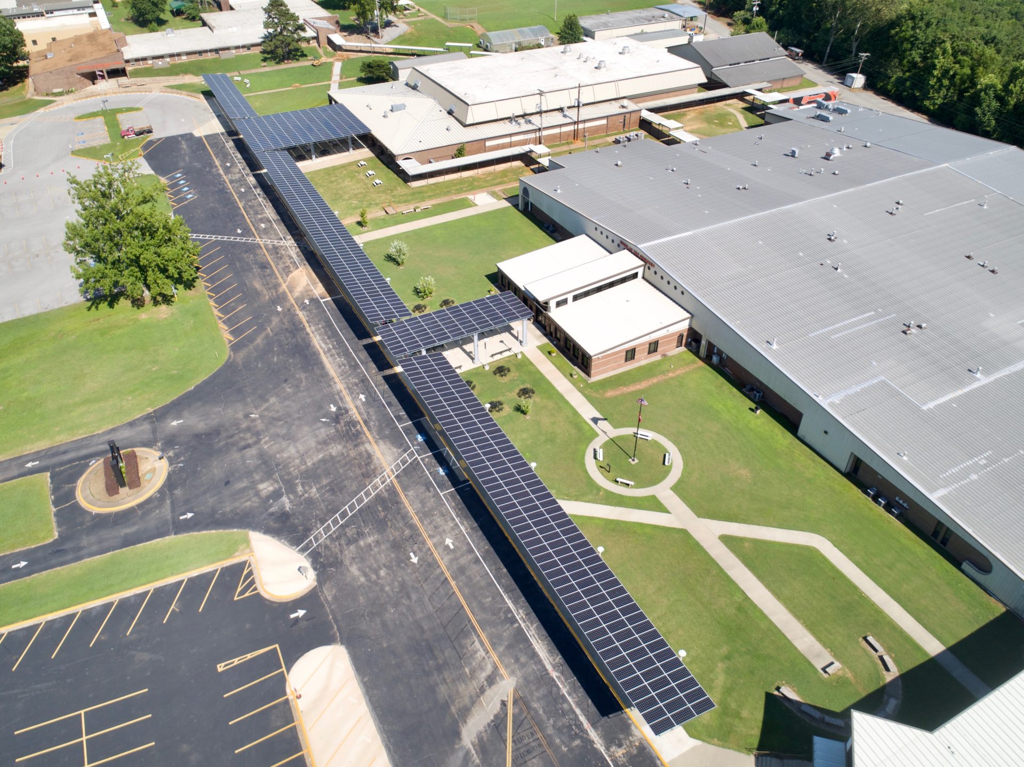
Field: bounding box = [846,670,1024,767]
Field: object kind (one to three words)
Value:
building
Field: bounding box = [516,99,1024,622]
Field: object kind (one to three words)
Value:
building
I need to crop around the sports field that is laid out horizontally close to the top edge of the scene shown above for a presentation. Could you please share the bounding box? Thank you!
[328,0,682,47]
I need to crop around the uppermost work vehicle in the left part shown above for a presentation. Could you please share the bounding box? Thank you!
[311,53,331,65]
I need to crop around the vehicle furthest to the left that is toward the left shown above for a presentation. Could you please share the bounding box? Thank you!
[118,122,152,138]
